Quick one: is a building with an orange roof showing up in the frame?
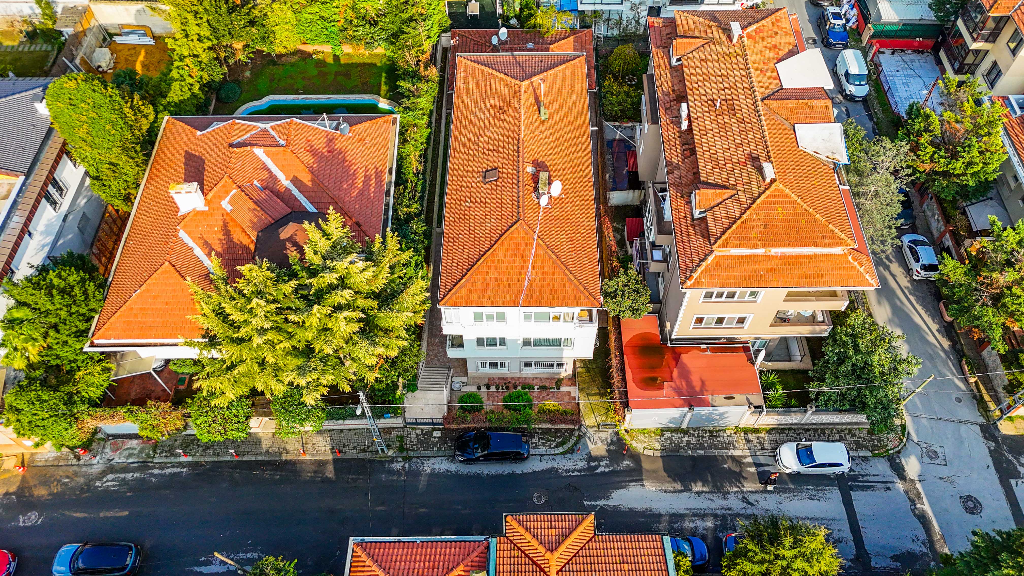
Yes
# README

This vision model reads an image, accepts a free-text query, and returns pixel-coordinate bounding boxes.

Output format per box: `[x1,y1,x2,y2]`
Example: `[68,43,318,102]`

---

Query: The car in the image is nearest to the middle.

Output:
[454,427,531,467]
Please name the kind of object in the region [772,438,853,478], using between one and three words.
car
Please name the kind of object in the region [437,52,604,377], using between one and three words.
house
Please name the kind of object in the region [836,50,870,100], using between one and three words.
vehicle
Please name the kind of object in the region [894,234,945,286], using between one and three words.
car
